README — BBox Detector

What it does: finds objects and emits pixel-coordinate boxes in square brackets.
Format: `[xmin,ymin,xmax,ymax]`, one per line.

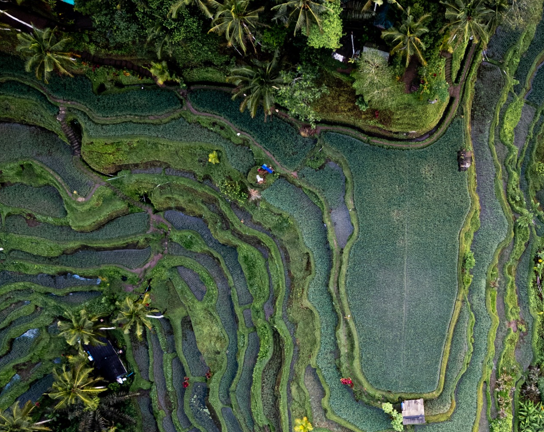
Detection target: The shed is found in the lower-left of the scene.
[84,340,129,377]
